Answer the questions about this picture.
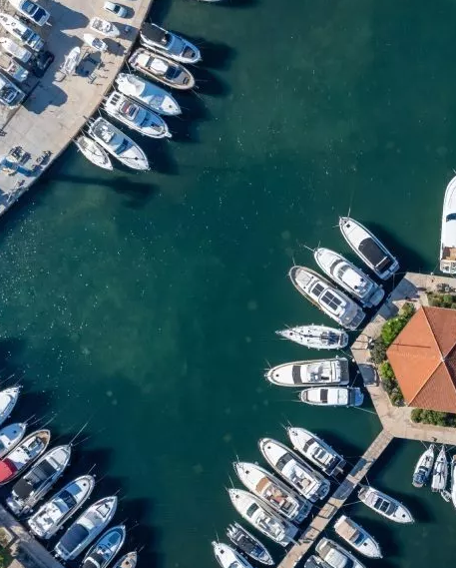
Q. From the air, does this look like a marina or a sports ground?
marina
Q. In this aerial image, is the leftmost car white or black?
black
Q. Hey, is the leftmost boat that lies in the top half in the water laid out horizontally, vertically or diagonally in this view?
diagonally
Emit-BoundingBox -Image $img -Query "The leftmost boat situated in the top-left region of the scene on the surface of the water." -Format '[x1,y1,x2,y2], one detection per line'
[74,133,122,176]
